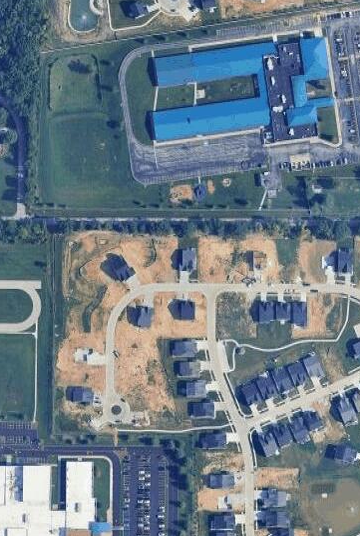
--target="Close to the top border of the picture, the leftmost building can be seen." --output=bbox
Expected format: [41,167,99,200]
[118,0,148,19]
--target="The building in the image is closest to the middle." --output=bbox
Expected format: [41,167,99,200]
[180,243,196,270]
